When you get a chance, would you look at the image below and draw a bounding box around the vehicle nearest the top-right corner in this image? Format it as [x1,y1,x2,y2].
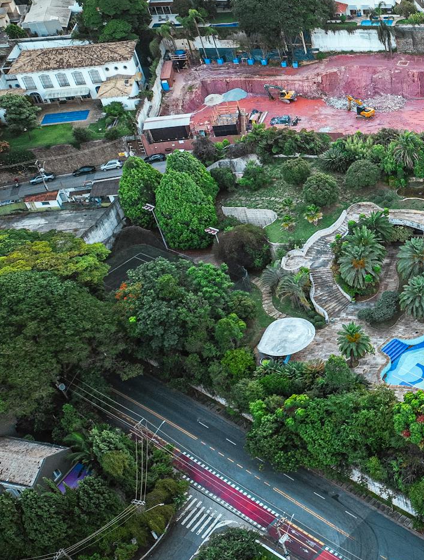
[348,94,377,120]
